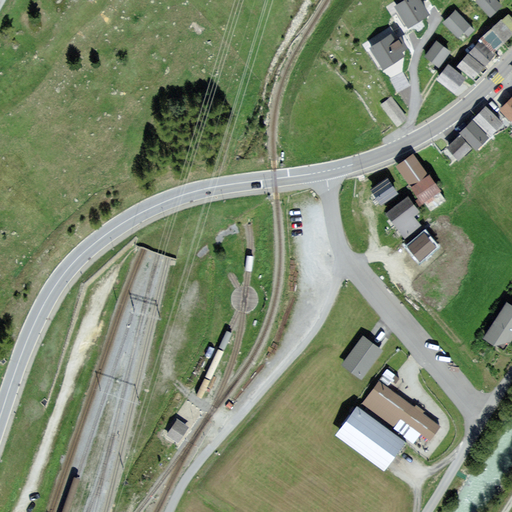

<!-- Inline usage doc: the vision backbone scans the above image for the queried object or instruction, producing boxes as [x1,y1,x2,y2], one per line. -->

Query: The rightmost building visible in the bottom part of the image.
[484,302,512,353]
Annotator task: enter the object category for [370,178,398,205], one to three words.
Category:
house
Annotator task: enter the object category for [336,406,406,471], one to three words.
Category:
barn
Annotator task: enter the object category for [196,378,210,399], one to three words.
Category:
rail car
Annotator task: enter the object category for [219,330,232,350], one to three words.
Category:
rail car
